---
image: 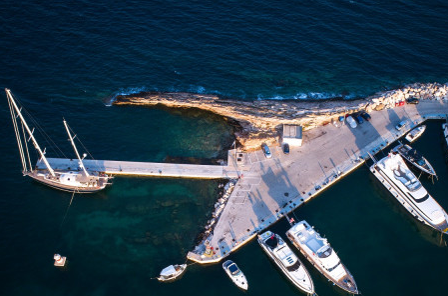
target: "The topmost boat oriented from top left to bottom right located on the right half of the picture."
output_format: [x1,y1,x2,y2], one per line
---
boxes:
[388,134,439,183]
